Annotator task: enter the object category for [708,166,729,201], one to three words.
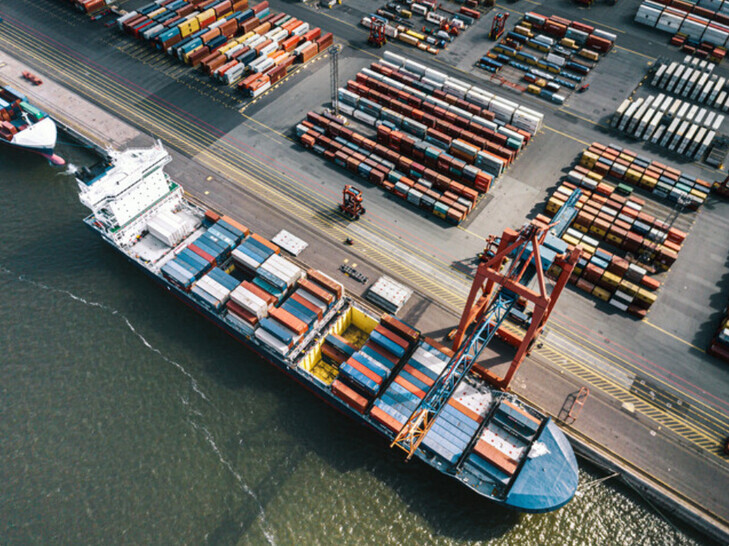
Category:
work vehicle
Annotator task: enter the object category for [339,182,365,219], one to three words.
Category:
work vehicle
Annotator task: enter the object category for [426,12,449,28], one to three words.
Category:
vehicle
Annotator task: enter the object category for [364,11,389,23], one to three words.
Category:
vehicle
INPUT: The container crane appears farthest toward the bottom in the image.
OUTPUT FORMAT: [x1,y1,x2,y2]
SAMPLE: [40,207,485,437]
[382,181,590,464]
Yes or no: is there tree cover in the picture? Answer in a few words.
No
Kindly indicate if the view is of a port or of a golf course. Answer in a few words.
port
